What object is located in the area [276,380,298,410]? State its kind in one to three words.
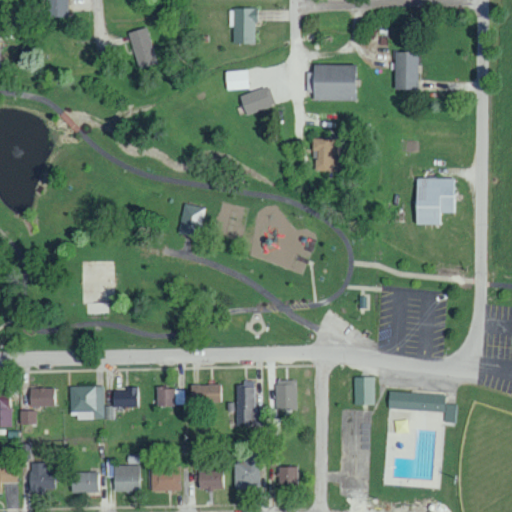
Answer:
house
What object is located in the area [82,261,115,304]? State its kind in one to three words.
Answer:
sports court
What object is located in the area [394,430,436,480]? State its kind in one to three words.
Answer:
swimming pool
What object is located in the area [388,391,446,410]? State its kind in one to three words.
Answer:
building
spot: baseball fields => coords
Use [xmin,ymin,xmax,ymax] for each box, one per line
[460,402,512,512]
